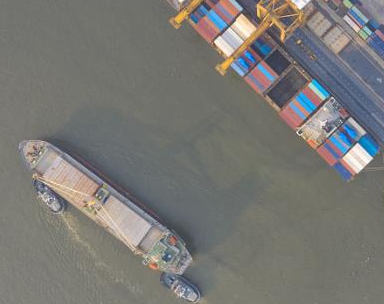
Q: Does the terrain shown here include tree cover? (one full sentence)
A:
No, no tree cover is visible.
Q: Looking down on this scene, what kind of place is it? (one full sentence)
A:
What you see here is a port.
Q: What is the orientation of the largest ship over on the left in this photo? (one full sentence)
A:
From this overhead view, the largest ship over on the left appears to run at an angle.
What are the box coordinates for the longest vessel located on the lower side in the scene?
[21,140,195,277]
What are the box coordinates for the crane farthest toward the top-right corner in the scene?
[215,0,318,74]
